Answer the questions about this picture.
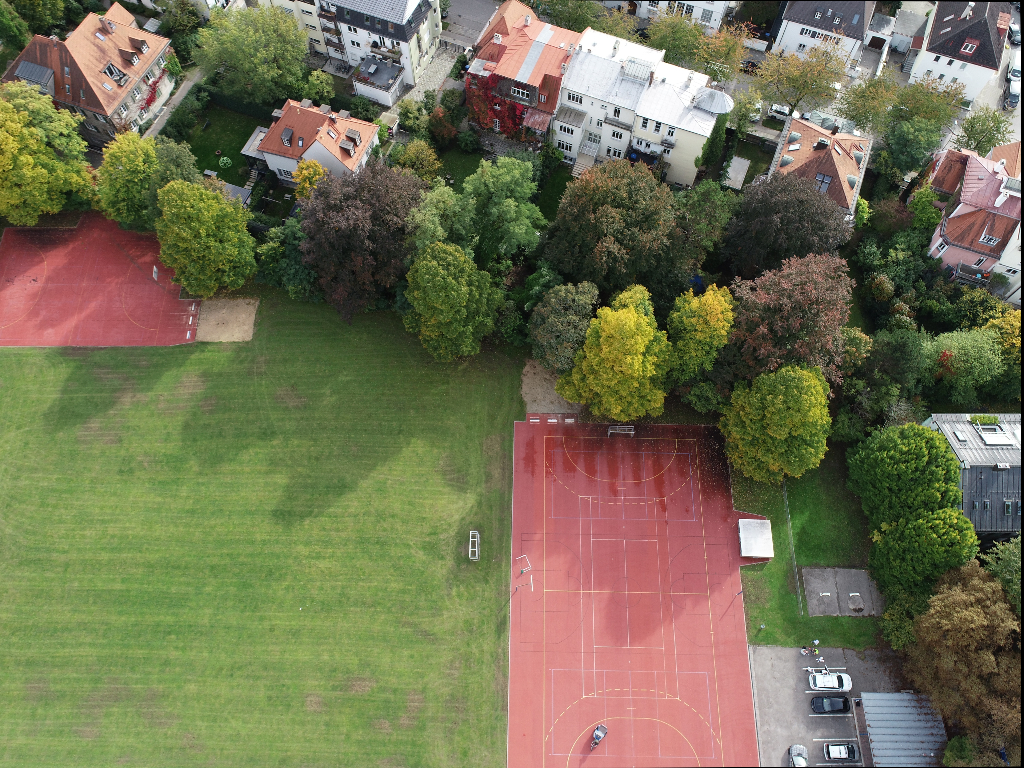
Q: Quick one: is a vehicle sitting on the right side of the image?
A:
Yes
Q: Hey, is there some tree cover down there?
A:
Yes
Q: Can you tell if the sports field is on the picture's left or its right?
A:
left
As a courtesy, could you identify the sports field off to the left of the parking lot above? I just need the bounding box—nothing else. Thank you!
[0,205,548,768]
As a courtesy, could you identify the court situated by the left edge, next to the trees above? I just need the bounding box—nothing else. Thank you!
[0,213,202,346]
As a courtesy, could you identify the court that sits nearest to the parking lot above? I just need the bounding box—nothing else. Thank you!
[507,413,772,768]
